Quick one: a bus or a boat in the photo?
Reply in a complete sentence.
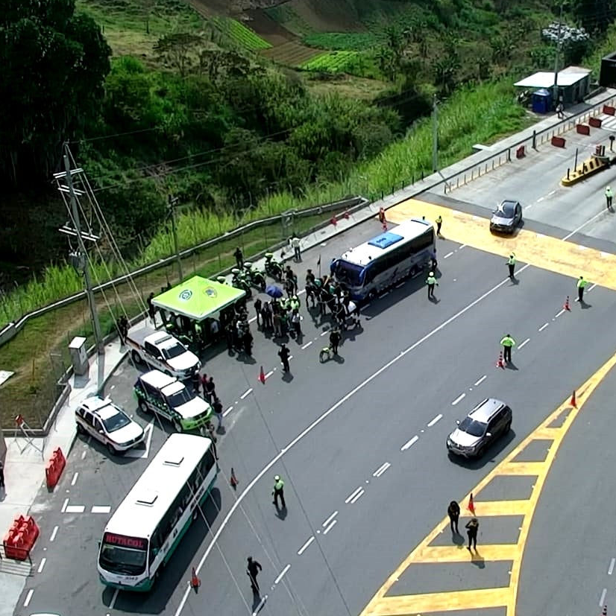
There is a bus in the scene.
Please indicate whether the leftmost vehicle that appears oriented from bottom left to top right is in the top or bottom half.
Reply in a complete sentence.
The leftmost vehicle that appears oriented from bottom left to top right sits in the bottom half of the picture.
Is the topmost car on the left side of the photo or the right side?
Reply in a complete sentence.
The topmost car is on the right side of the image.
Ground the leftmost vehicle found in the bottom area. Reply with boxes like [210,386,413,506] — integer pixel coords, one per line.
[73,392,146,458]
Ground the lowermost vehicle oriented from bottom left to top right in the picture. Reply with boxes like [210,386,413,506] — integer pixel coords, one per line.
[87,433,219,593]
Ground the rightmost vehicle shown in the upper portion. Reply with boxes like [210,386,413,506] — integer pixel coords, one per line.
[491,200,521,235]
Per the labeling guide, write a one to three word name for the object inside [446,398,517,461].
car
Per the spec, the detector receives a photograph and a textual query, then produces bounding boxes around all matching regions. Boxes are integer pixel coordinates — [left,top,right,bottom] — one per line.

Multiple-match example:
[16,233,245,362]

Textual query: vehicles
[120,330,201,383]
[232,269,250,298]
[446,398,517,461]
[264,254,282,283]
[172,318,197,347]
[334,214,446,305]
[129,369,208,436]
[247,263,265,292]
[73,392,146,458]
[87,433,219,593]
[491,200,521,235]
